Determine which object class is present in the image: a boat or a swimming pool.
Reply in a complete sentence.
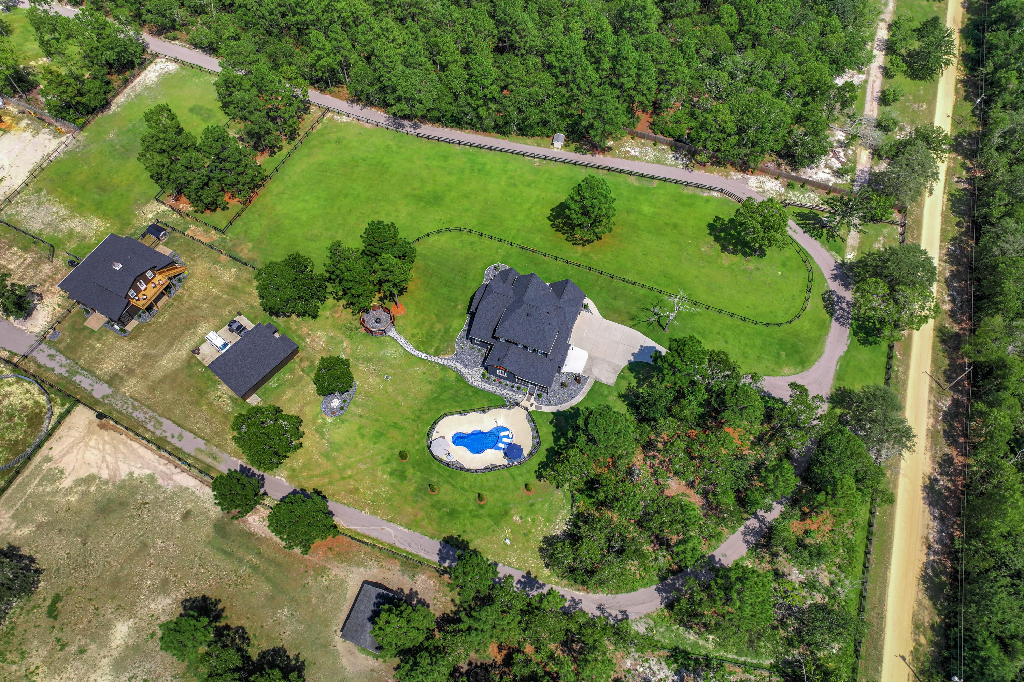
Of the two, only a swimming pool appears.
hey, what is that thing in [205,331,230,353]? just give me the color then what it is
white truck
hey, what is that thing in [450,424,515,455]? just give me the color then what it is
blue swimming pool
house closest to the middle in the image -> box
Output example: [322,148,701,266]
[469,267,587,396]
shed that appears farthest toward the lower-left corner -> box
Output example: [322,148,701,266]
[340,583,394,654]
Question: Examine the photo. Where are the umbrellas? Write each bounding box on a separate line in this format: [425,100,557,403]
[431,438,456,462]
[506,443,523,460]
